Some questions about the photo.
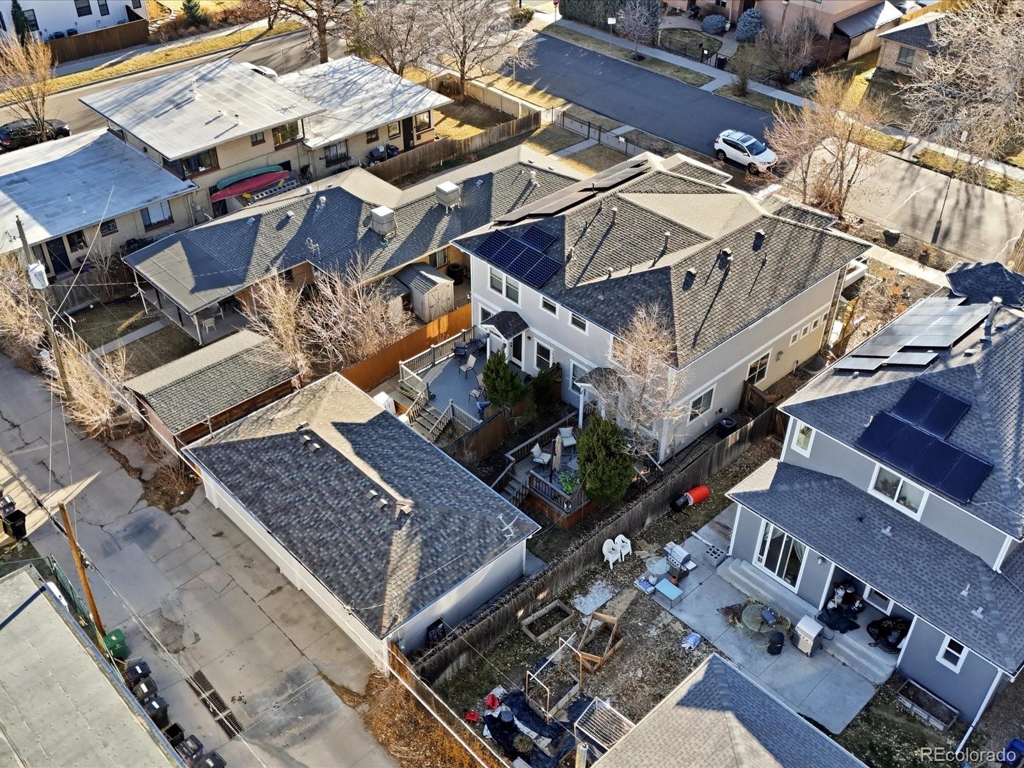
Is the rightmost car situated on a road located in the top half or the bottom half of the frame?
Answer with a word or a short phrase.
top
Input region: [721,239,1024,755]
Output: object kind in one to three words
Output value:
house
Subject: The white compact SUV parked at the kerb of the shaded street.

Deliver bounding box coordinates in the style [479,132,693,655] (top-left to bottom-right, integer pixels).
[713,131,784,175]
